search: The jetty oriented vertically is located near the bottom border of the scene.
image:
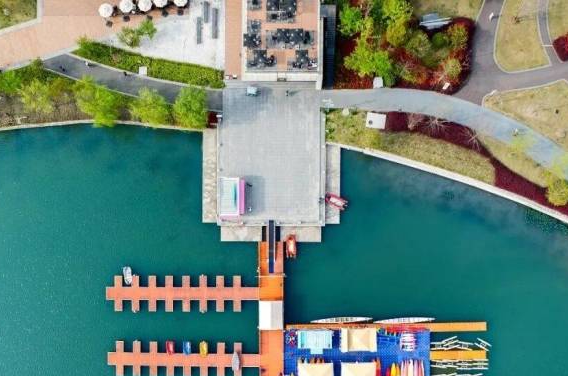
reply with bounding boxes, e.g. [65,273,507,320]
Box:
[257,241,285,376]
